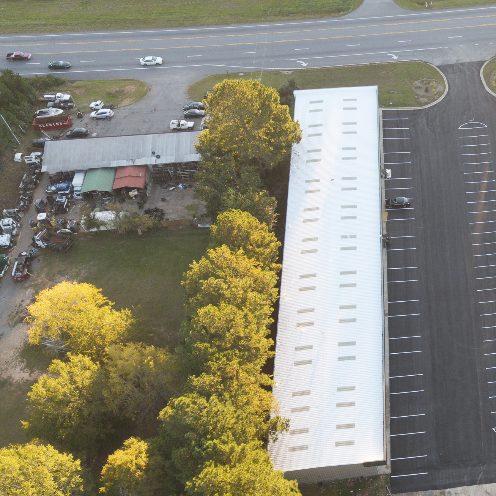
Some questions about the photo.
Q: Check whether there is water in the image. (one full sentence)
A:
No, no water is visible.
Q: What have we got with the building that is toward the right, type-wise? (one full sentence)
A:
Specifically, the building that is toward the right is a warehouse.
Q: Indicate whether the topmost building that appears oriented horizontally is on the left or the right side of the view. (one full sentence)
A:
The topmost building that appears oriented horizontally sits on the left side.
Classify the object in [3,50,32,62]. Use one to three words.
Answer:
vehicle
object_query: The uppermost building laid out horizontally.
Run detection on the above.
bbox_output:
[41,131,212,179]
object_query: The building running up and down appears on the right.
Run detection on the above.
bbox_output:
[272,83,387,483]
